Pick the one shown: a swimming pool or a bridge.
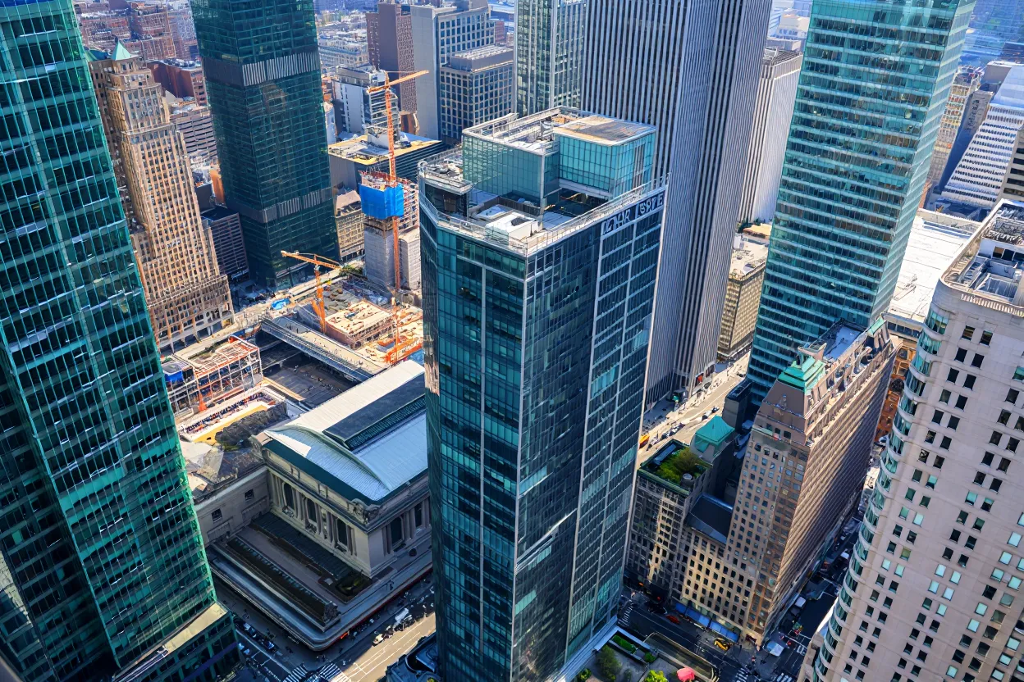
bridge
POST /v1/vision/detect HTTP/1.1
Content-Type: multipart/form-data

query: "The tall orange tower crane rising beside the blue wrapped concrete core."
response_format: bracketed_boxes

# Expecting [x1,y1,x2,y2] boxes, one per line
[368,61,429,292]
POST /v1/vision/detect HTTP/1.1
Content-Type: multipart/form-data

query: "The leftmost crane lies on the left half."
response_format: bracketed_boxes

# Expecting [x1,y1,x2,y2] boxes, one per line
[280,253,340,332]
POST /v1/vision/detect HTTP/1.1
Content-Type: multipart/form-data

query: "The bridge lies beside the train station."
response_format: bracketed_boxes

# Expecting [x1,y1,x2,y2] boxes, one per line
[254,313,389,386]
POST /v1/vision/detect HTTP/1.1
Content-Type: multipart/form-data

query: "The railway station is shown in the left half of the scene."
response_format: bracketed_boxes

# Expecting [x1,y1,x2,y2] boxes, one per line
[182,357,433,581]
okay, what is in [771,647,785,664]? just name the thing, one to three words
vehicle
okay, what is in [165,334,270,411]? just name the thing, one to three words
building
